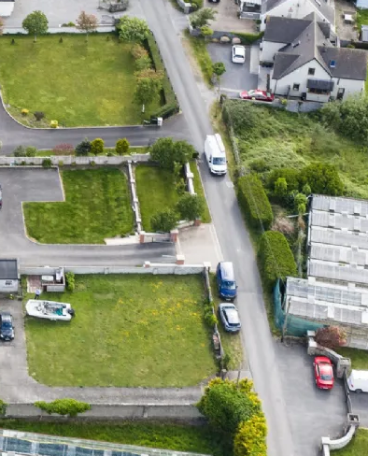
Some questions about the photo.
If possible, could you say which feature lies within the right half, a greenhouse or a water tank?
greenhouse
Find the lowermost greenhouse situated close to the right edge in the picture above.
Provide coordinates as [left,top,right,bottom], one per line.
[282,278,368,346]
